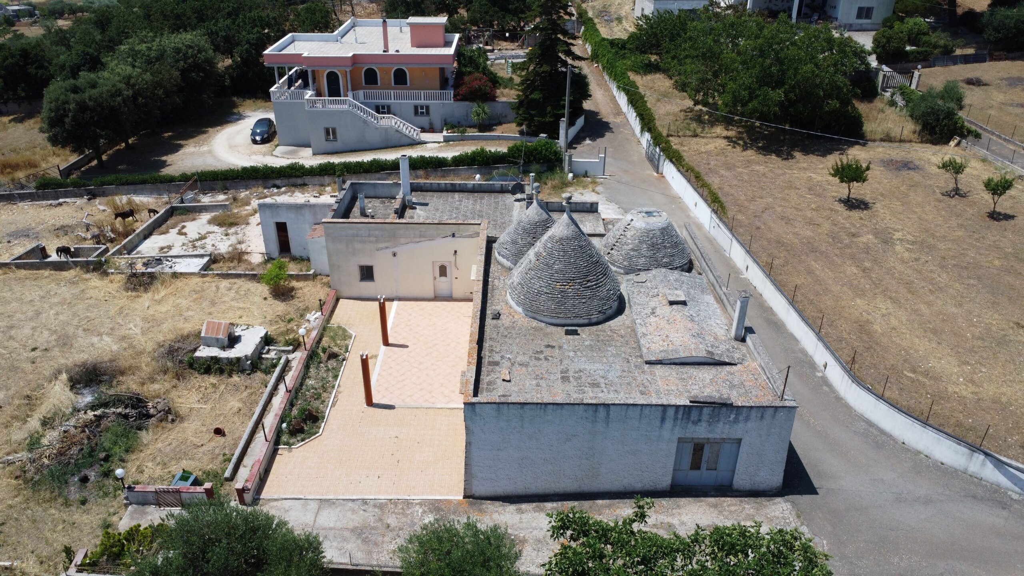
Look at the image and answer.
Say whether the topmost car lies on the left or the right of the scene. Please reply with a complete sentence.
You can find the topmost car on the left side of the picture.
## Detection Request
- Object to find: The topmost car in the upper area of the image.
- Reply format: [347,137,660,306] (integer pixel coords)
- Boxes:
[241,110,277,140]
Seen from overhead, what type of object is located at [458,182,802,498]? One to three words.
building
